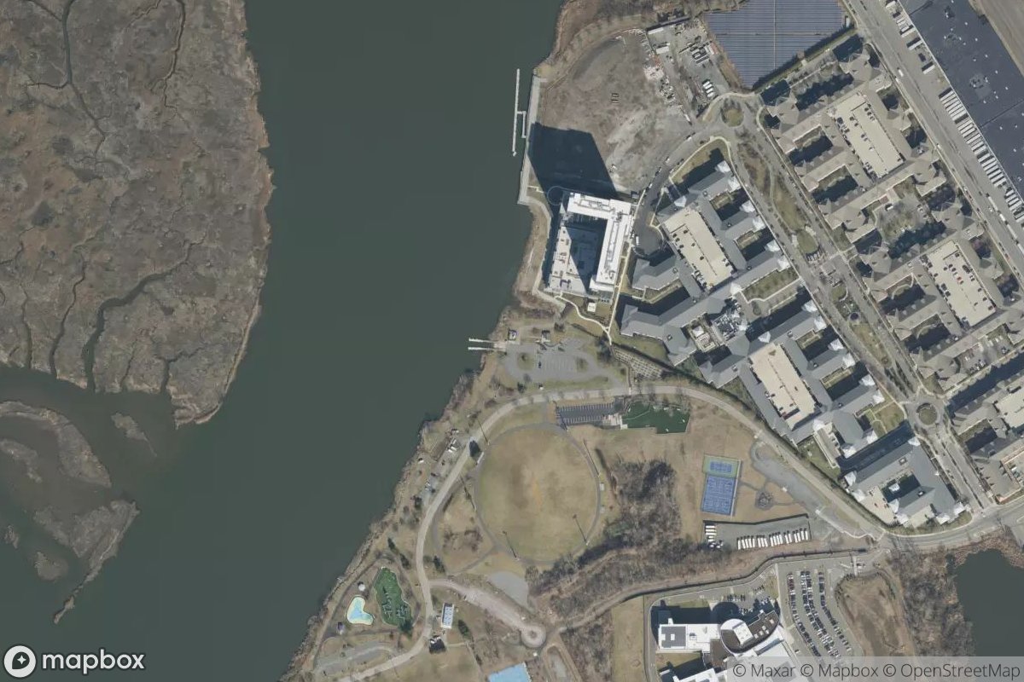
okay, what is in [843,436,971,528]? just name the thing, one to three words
building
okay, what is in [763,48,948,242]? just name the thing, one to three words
building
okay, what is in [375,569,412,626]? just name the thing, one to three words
playground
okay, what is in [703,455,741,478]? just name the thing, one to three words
sports court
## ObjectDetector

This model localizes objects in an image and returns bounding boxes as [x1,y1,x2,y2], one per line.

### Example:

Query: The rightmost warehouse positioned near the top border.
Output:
[898,0,1024,207]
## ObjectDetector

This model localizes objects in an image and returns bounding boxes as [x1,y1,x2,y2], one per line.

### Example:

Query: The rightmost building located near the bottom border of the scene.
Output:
[655,611,803,682]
